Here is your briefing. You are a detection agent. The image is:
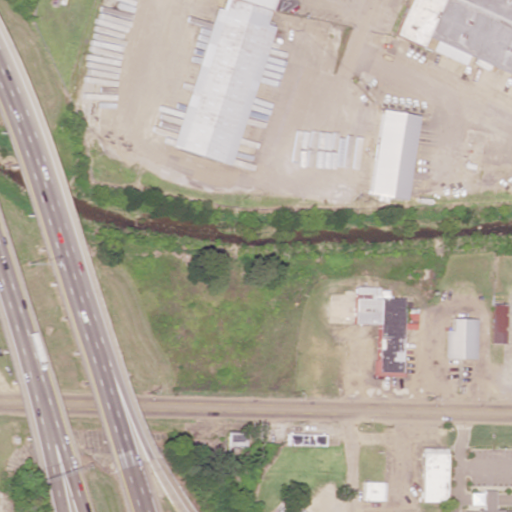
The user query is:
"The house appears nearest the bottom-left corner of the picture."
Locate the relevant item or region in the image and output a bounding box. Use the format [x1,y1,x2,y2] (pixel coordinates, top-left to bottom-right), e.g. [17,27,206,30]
[226,432,250,452]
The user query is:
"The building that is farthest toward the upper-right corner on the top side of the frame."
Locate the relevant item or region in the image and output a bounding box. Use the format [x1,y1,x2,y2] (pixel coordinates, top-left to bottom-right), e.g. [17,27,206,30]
[398,0,512,75]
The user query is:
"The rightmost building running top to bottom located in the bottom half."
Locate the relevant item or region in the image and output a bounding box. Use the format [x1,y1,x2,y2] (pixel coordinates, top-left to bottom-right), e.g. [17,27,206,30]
[493,306,508,344]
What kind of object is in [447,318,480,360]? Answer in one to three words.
building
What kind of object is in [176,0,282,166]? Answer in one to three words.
building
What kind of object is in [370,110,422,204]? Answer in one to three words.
shed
